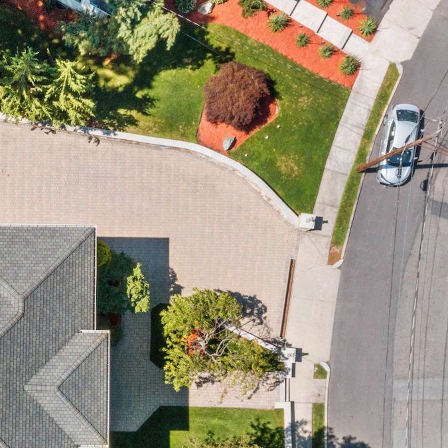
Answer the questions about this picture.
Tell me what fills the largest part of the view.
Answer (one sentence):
The scene is dominated by paved ground.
